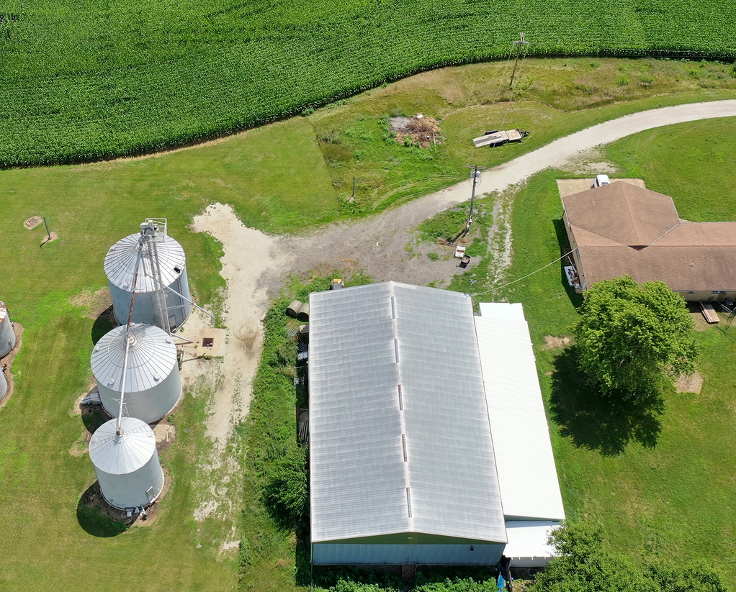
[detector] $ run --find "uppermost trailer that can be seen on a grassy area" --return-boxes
[472,125,531,150]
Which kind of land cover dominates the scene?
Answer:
grass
